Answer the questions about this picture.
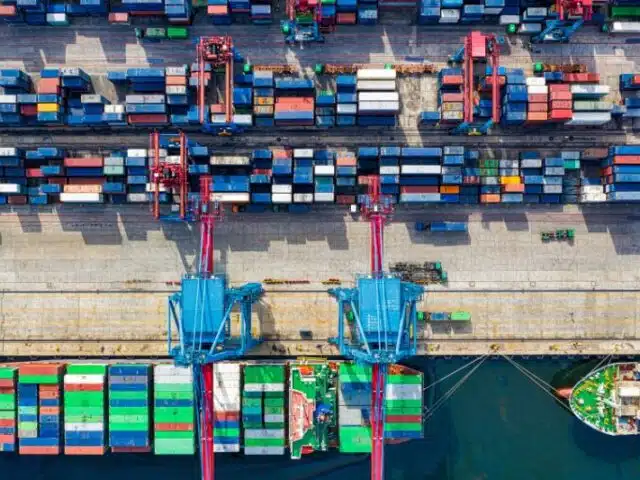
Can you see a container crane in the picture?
Yes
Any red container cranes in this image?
Yes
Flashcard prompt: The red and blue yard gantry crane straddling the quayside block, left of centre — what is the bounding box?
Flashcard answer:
[151,132,201,226]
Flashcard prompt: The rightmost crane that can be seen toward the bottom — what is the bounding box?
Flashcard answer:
[326,170,428,480]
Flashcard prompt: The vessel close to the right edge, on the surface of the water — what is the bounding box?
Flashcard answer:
[556,360,640,438]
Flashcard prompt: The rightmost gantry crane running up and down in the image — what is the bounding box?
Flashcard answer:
[451,29,501,135]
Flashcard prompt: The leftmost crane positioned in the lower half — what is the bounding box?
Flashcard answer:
[163,170,264,480]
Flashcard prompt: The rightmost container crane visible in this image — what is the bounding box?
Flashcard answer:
[535,0,592,41]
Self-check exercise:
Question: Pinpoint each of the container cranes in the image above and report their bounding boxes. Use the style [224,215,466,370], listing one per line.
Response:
[198,35,244,136]
[163,170,264,480]
[151,132,201,226]
[535,0,592,41]
[451,29,501,135]
[326,170,428,480]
